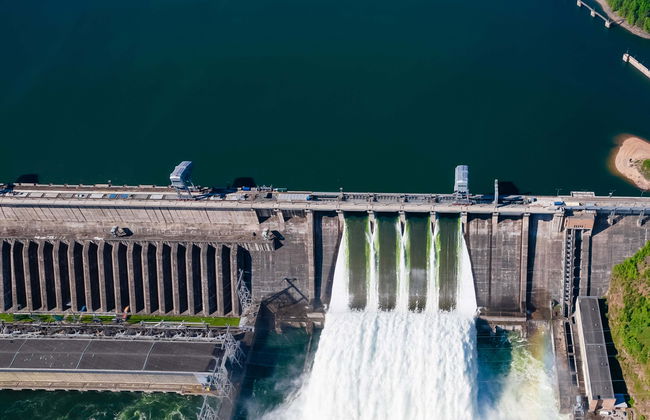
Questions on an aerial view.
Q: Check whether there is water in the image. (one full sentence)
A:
Yes, some water is visible.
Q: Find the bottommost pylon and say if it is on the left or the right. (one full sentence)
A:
The bottommost pylon sits on the left side.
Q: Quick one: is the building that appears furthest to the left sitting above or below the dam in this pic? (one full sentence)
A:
The building that appears furthest to the left is below the dam.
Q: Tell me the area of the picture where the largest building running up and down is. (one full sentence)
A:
You can find the largest building running up and down in the bottom right area of the picture.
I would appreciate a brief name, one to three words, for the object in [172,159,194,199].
container crane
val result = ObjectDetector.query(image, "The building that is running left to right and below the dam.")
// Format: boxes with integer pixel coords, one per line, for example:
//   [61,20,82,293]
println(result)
[0,338,225,396]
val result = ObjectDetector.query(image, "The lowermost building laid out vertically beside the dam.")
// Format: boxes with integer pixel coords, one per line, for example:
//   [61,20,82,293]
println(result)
[573,296,617,410]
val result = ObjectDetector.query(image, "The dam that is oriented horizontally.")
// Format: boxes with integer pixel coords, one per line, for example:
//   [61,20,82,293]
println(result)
[0,182,650,339]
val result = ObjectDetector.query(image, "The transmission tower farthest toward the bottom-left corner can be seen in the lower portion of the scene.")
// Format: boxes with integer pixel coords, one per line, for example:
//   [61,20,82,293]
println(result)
[192,390,220,420]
